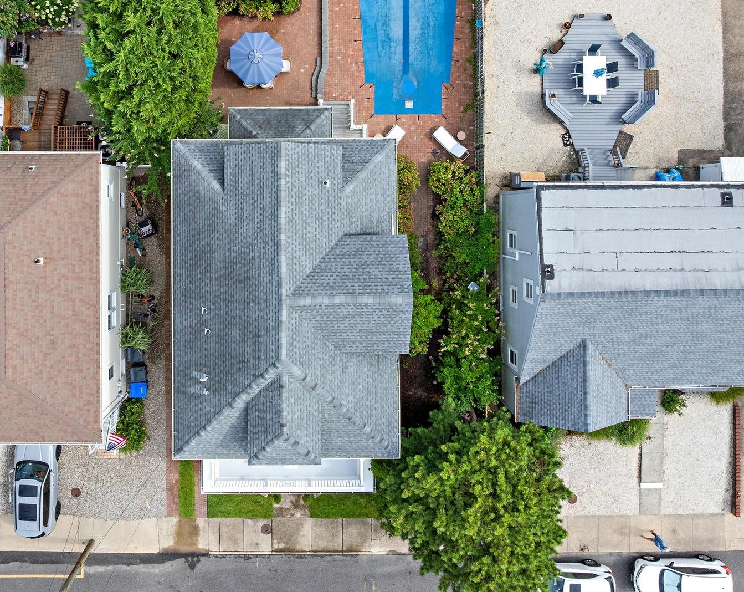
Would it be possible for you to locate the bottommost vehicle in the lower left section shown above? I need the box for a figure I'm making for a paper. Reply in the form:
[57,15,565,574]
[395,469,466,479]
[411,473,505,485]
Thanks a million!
[4,446,58,542]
